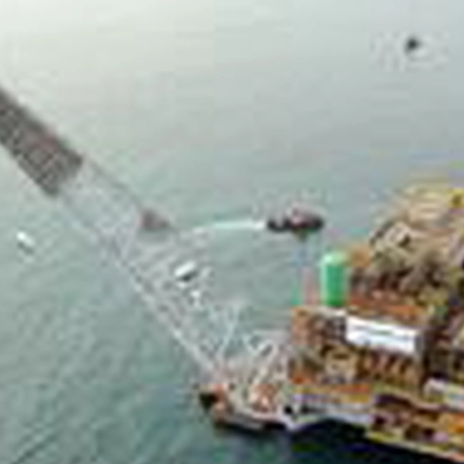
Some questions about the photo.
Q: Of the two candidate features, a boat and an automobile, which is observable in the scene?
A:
boat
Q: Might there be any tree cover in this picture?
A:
No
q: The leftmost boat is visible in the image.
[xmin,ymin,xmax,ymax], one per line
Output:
[16,230,33,249]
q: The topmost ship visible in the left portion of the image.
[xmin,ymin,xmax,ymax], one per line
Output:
[136,203,172,227]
